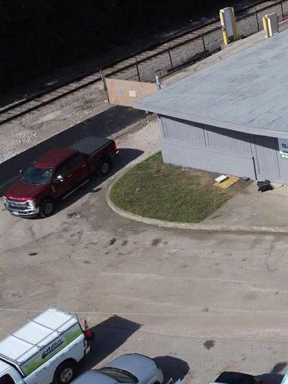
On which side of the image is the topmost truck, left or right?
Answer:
left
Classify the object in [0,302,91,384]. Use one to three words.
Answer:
truck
